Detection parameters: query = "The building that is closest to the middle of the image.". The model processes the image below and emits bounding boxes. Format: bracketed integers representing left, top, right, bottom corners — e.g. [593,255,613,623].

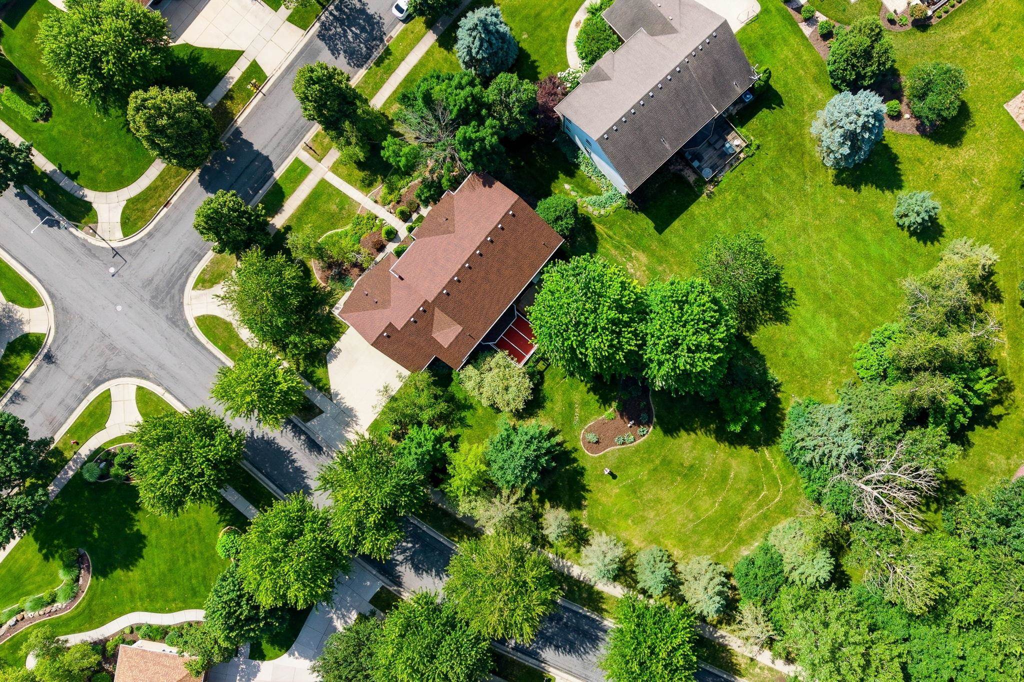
[338,172,564,377]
